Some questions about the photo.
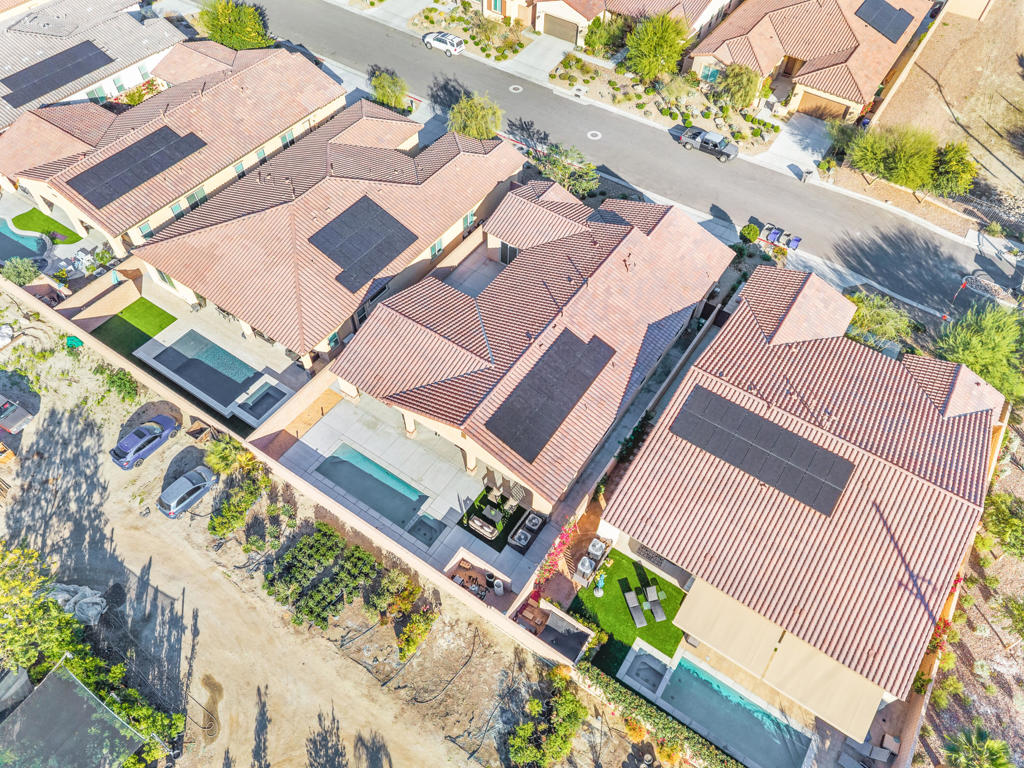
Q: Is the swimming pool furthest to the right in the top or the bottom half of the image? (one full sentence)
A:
You can find the swimming pool furthest to the right in the bottom half.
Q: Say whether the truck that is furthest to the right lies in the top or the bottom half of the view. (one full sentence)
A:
The truck that is furthest to the right sits in the top half of the picture.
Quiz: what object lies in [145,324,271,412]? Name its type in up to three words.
swimming pool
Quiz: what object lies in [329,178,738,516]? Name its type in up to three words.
house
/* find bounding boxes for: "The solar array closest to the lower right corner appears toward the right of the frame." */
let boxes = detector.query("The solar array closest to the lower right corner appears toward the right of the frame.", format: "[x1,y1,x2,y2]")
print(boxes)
[668,380,862,519]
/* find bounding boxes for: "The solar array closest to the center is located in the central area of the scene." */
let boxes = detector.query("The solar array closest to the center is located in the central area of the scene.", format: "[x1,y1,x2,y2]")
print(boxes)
[478,325,619,461]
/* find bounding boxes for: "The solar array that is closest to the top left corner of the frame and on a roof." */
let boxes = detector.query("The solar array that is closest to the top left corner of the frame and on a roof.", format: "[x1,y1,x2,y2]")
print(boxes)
[0,37,106,110]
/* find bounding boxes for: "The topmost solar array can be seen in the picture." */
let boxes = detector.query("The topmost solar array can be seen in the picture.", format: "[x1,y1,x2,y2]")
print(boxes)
[851,0,915,42]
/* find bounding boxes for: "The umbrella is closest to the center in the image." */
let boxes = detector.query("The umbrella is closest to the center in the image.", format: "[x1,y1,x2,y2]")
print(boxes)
[591,572,606,599]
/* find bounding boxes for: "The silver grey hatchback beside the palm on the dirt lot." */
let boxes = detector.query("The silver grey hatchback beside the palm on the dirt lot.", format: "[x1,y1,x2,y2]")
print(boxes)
[148,460,226,524]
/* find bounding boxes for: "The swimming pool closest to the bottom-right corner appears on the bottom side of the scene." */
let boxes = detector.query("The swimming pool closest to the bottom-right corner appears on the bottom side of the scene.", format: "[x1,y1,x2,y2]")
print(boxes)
[655,646,822,768]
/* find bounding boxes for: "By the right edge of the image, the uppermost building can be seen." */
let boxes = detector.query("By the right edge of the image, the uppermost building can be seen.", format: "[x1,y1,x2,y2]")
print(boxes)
[948,0,1005,34]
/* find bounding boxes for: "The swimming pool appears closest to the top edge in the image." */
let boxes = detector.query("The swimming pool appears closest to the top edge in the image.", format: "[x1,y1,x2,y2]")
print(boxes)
[0,213,53,265]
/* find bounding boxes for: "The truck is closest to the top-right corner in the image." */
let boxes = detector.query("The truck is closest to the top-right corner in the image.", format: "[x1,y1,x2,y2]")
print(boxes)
[677,123,744,162]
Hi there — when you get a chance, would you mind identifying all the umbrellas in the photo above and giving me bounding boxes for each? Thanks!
[591,572,606,599]
[107,273,118,289]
